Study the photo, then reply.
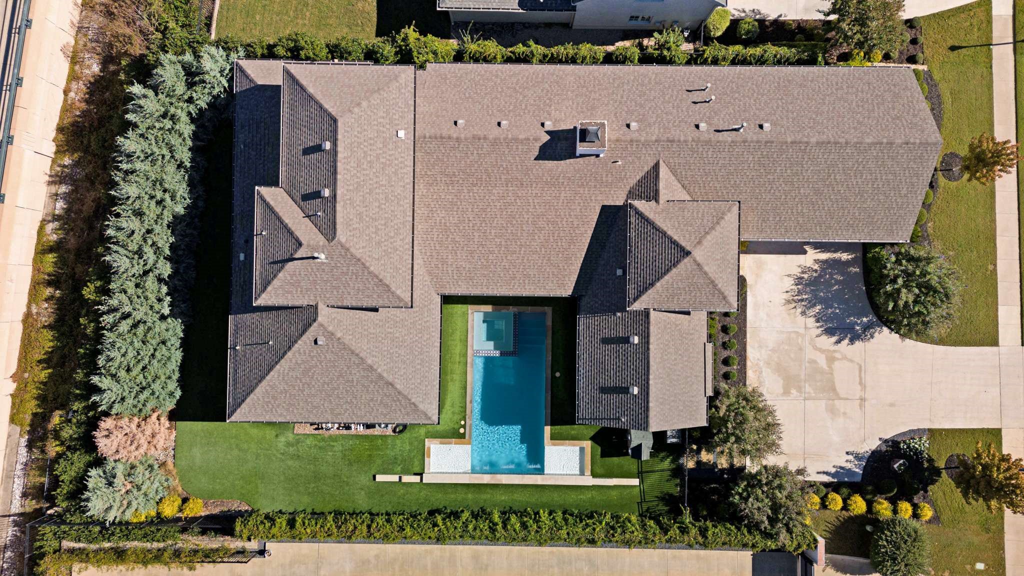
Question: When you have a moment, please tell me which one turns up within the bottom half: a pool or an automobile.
pool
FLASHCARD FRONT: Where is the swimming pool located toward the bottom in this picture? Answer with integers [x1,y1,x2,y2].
[425,306,591,474]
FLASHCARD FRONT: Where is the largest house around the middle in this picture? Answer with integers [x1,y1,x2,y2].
[225,57,942,431]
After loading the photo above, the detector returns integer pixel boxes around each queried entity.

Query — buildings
[225,57,942,431]
[436,0,724,29]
